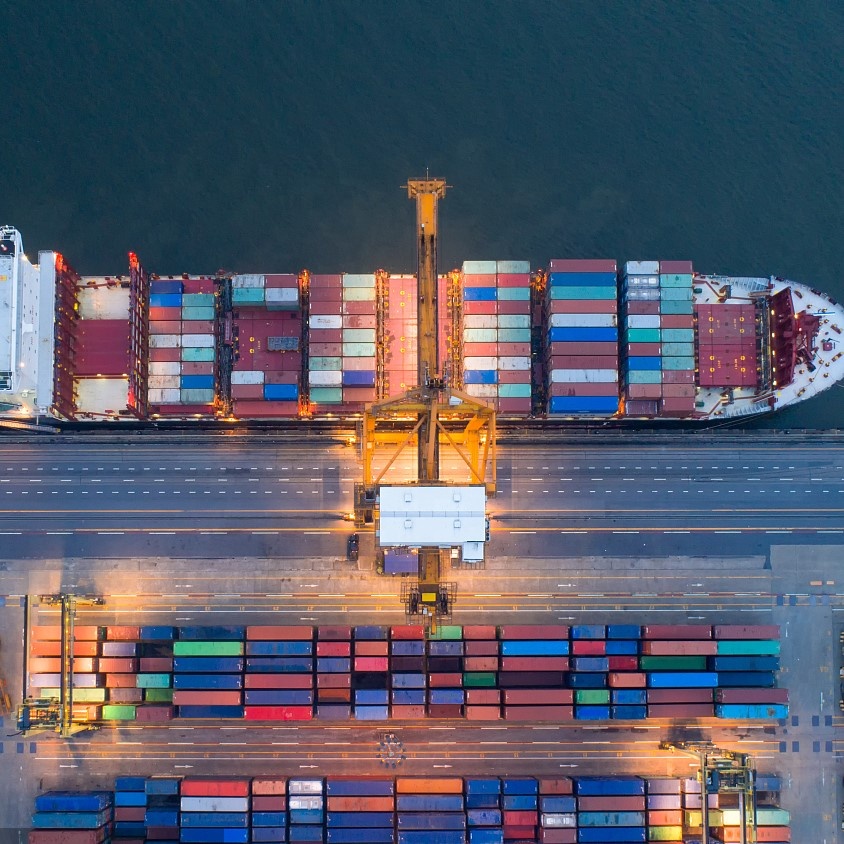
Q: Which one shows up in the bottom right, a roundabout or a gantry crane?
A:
gantry crane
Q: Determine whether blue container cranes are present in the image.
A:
No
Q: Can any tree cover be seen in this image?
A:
No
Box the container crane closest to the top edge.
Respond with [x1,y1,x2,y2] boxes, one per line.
[340,172,505,634]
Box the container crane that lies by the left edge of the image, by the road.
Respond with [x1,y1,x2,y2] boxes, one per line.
[14,592,103,746]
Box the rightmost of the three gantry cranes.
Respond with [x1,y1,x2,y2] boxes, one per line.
[662,739,757,844]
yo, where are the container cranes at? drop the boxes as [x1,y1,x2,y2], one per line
[14,592,103,746]
[662,739,757,844]
[340,172,505,634]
